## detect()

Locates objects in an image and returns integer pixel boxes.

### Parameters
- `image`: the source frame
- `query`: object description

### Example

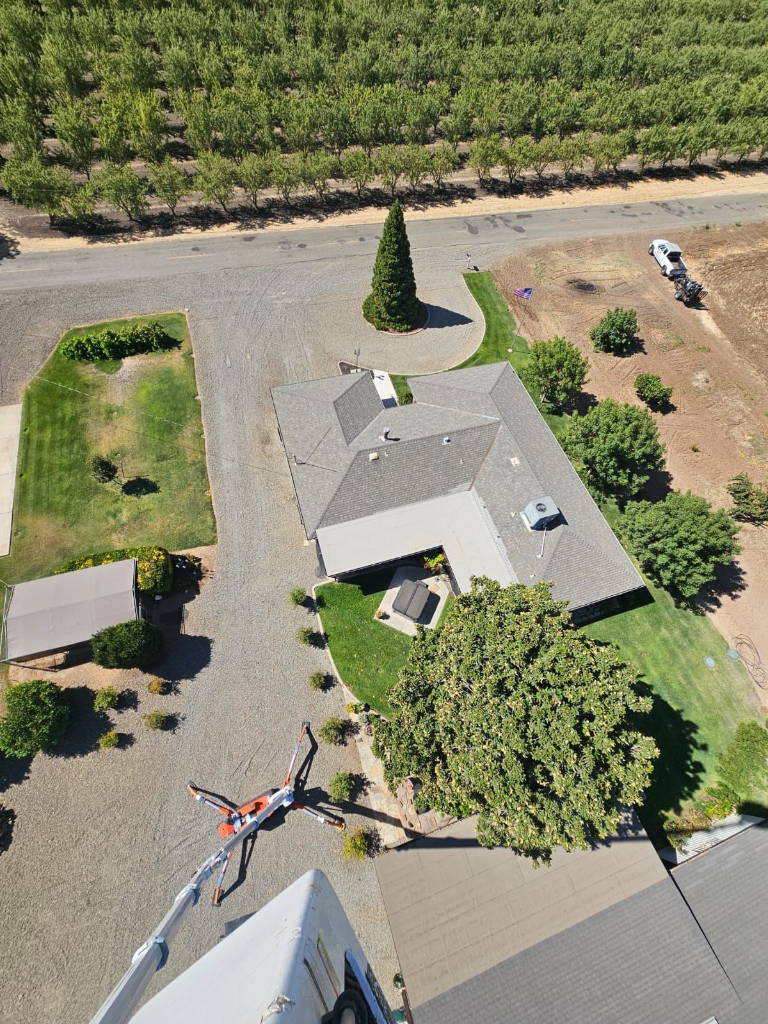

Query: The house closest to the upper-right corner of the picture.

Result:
[269,360,644,635]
